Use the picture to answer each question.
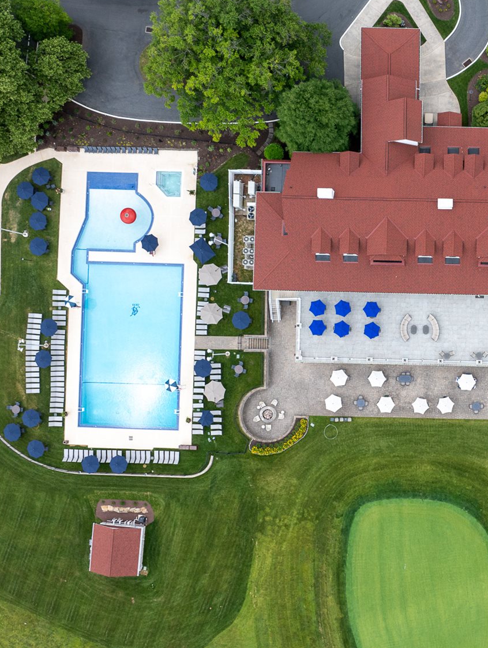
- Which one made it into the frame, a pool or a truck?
pool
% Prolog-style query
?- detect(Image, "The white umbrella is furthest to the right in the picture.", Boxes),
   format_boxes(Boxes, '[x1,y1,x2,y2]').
[455,373,476,391]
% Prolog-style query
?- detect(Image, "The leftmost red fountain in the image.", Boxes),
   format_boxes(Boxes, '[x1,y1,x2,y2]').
[122,208,139,224]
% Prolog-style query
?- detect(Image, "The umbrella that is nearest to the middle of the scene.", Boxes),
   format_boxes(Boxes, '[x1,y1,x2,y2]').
[232,310,251,329]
